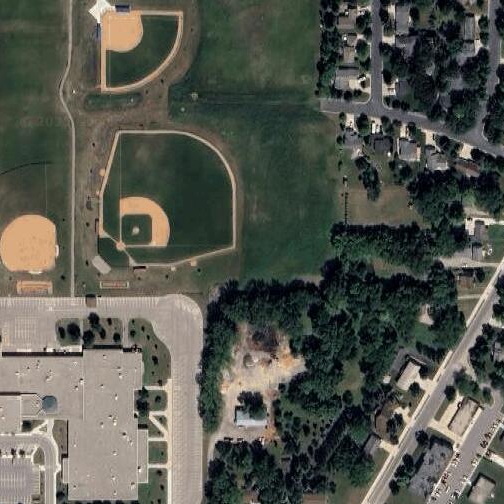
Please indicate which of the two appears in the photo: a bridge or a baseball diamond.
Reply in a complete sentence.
The one in the frame is a baseball diamond.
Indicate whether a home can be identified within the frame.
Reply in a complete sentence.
Yes, I can see a home in this picture.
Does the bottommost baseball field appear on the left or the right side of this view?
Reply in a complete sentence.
The bottommost baseball field is on the left side of the image.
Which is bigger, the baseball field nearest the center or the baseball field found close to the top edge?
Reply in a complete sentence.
Of the two, the baseball field nearest the center is larger and the baseball field found close to the top edge is the smaller one.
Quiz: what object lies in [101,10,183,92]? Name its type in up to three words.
baseball field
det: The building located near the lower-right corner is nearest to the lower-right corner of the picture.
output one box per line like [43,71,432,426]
[469,477,495,504]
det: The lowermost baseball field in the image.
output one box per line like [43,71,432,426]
[0,215,56,272]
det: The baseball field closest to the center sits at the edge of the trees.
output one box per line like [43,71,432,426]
[98,131,235,268]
